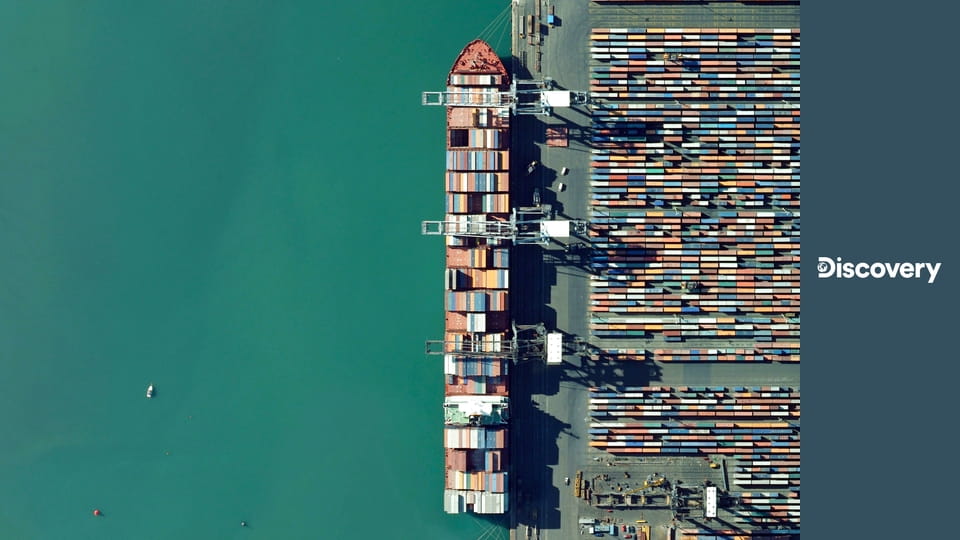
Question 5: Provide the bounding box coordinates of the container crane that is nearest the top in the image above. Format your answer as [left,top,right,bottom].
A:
[425,75,588,119]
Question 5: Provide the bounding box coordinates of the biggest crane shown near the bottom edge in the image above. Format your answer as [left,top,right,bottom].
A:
[672,478,740,532]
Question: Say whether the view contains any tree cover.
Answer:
No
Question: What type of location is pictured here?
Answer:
port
